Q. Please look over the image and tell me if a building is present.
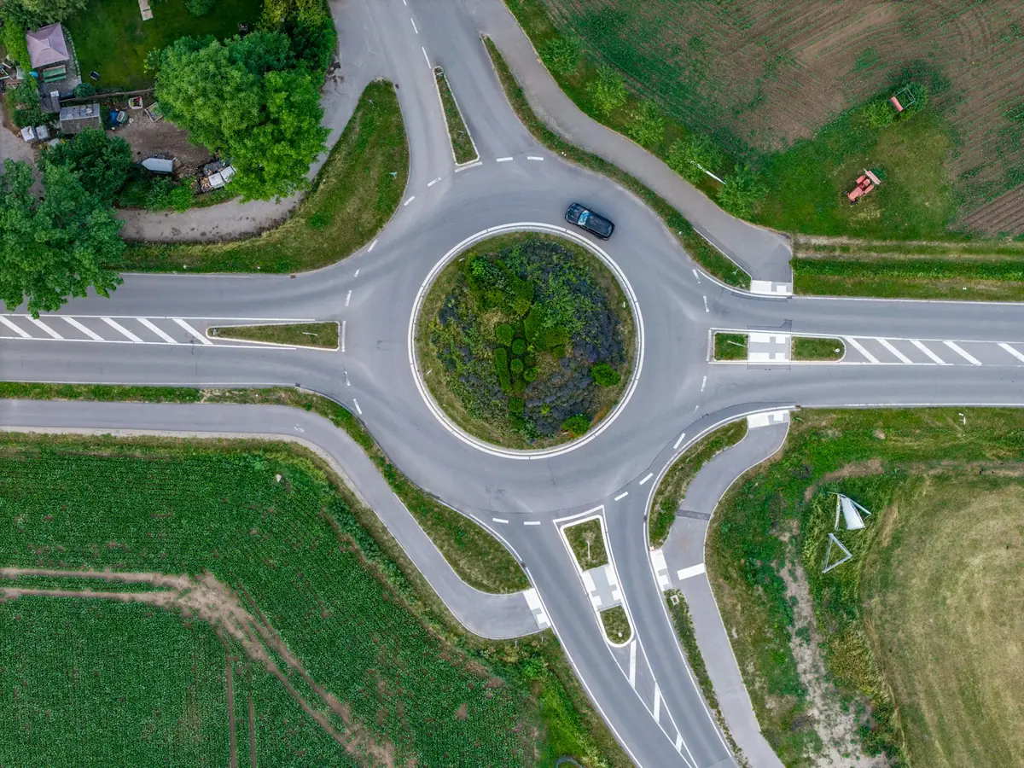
Yes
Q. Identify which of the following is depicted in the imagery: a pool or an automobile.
automobile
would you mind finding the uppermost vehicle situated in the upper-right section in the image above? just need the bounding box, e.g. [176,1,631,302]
[841,170,878,209]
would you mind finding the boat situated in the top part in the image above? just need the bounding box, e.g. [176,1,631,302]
[142,158,176,173]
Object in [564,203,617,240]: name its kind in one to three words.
car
